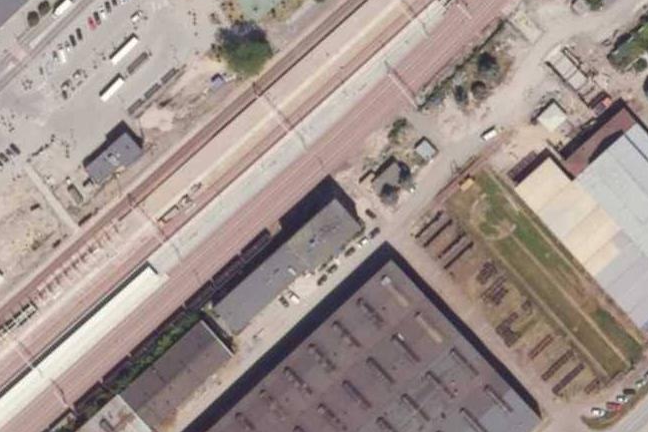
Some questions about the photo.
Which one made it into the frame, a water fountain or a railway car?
railway car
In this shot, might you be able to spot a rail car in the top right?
No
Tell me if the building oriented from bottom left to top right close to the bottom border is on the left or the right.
left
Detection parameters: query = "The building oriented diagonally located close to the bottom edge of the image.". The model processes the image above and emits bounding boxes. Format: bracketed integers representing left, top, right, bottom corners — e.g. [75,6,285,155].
[118,320,233,430]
